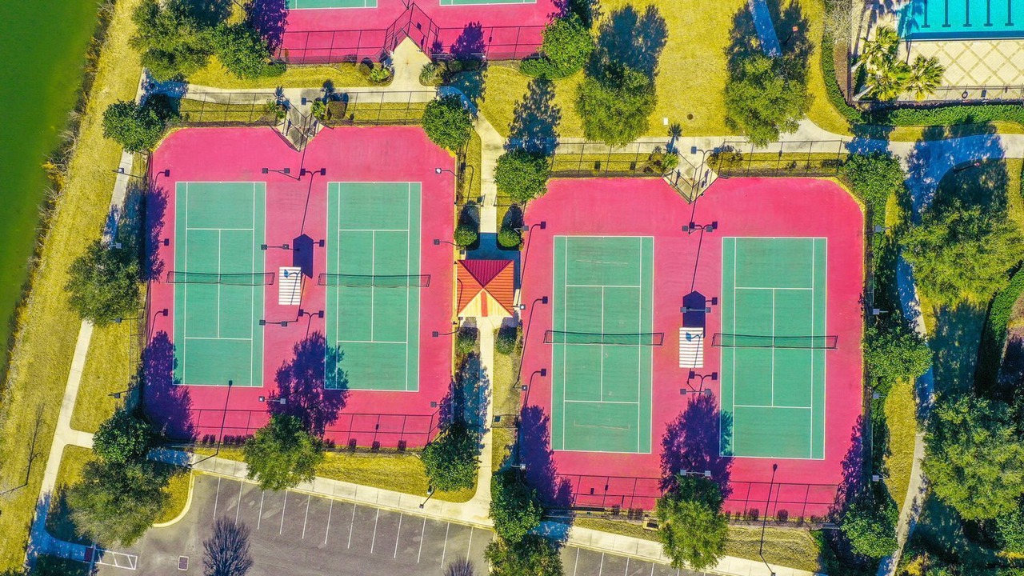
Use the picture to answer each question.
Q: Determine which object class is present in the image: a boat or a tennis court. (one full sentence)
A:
I can see a tennis court in this picture.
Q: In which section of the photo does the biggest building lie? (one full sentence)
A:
The biggest building sits in the center section of the image.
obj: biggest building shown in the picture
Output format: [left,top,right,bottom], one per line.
[456,259,515,318]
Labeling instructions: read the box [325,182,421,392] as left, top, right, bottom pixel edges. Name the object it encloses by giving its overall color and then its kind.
green tennis court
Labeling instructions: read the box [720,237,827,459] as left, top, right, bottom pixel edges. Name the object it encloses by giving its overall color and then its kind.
green tennis court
